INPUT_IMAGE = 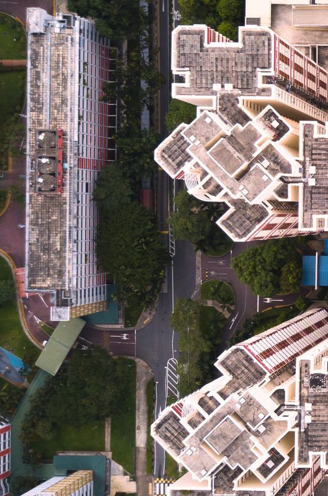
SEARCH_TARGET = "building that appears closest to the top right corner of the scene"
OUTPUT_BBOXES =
[154,25,328,241]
